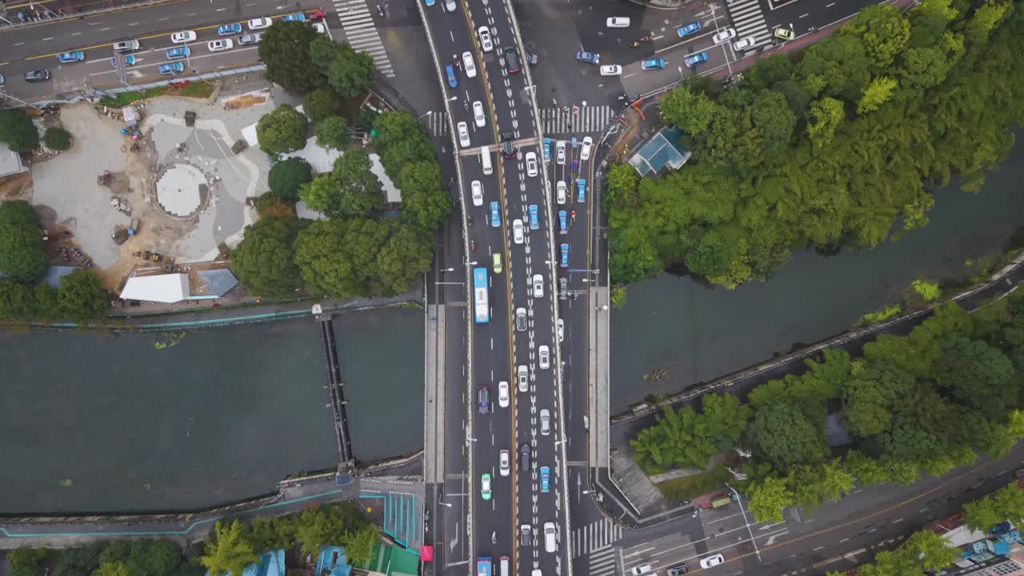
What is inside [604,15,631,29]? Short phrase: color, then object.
white vehicle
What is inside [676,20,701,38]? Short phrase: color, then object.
blue car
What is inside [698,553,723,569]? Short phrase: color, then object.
white car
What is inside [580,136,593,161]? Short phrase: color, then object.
white vehicle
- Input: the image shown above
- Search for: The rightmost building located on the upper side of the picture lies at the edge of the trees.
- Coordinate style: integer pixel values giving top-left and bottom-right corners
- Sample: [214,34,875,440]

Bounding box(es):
[628,126,690,177]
